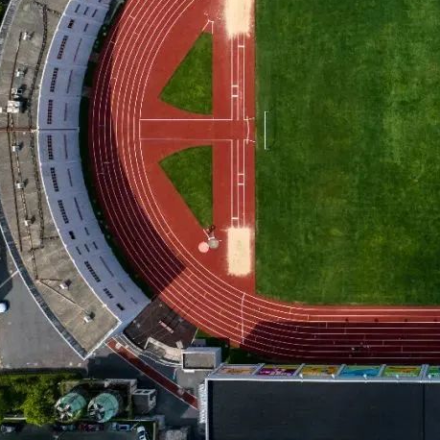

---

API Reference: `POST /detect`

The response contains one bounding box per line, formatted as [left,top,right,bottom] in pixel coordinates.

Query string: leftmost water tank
[55,390,88,418]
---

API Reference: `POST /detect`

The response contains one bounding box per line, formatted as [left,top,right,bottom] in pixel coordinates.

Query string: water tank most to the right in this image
[86,390,119,419]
